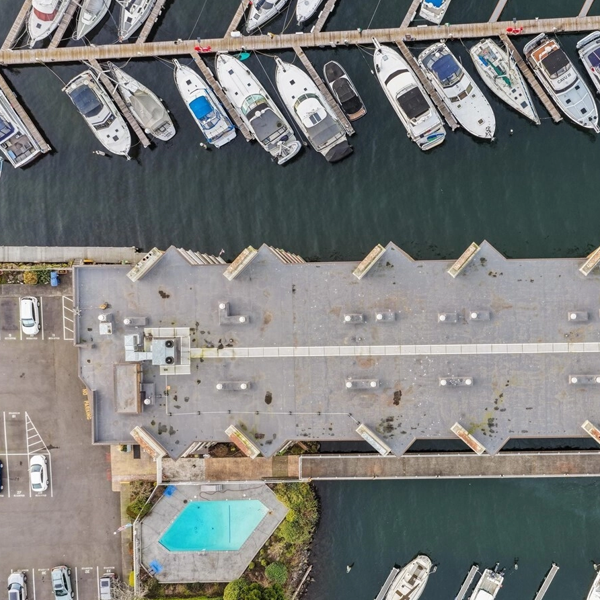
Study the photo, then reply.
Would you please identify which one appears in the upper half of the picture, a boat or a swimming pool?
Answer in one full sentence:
The one visible in the upper half of the picture is a boat.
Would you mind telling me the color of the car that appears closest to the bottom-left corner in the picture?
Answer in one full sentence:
The car that appears closest to the bottom-left corner looks white in the image.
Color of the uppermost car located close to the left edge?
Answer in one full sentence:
From above, the uppermost car located close to the left edge appears white.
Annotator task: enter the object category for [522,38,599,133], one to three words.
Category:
boat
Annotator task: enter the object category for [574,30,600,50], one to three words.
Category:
boat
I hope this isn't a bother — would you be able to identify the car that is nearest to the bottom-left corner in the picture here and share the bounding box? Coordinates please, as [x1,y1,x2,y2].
[6,573,28,600]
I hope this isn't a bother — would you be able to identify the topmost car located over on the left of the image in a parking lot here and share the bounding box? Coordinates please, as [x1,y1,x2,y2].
[18,297,39,333]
